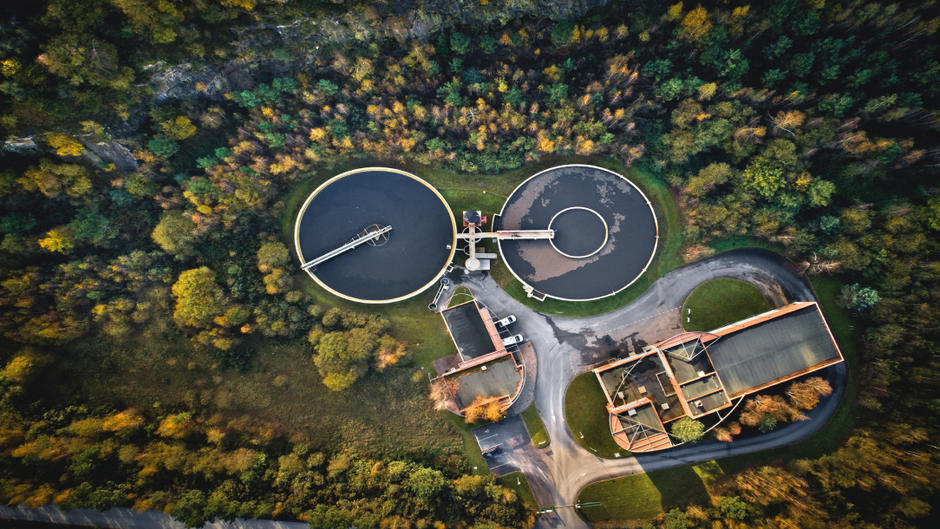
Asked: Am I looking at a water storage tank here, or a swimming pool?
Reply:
water storage tank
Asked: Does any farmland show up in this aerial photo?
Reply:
No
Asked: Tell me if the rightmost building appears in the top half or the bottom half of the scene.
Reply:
bottom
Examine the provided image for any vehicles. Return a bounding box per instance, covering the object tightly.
[494,316,516,328]
[502,336,524,347]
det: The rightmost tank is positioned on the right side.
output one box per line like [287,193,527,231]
[491,164,660,301]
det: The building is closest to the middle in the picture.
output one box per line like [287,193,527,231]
[429,298,526,418]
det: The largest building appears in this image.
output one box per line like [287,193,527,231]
[588,299,844,453]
